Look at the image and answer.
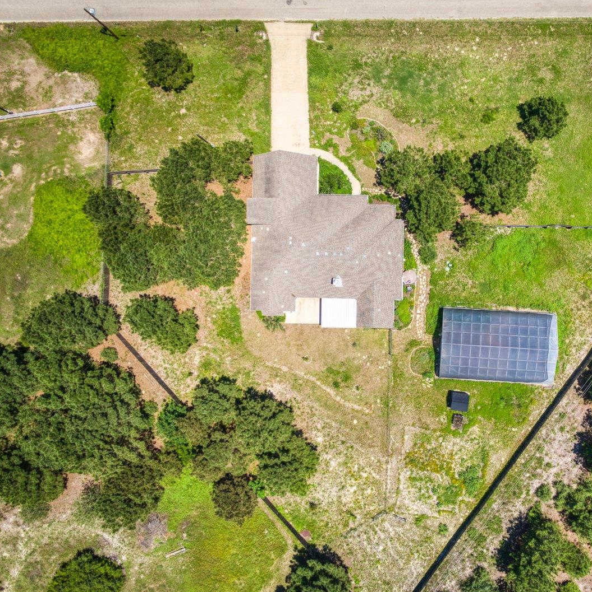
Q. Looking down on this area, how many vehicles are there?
0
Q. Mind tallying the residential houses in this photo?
two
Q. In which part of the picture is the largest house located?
center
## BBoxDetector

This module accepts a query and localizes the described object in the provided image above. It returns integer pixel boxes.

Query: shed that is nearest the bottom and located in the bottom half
[450,391,469,412]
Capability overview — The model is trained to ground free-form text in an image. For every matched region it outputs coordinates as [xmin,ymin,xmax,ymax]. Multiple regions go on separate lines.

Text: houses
[246,148,404,328]
[432,306,557,386]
